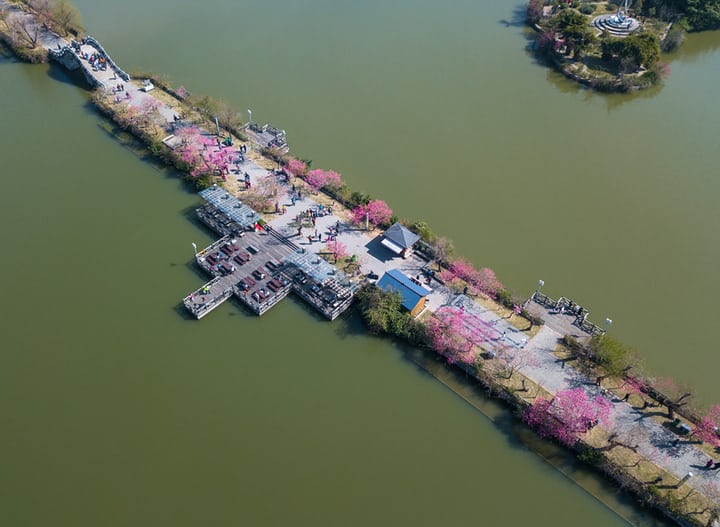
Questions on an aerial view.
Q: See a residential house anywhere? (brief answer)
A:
Yes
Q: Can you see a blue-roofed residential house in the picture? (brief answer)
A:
Yes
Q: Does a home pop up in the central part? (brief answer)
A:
Yes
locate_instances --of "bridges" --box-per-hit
[46,39,134,91]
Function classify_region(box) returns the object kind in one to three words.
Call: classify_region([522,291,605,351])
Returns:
pier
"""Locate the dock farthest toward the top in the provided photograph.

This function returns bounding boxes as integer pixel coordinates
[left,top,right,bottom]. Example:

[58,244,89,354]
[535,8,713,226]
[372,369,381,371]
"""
[234,122,288,157]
